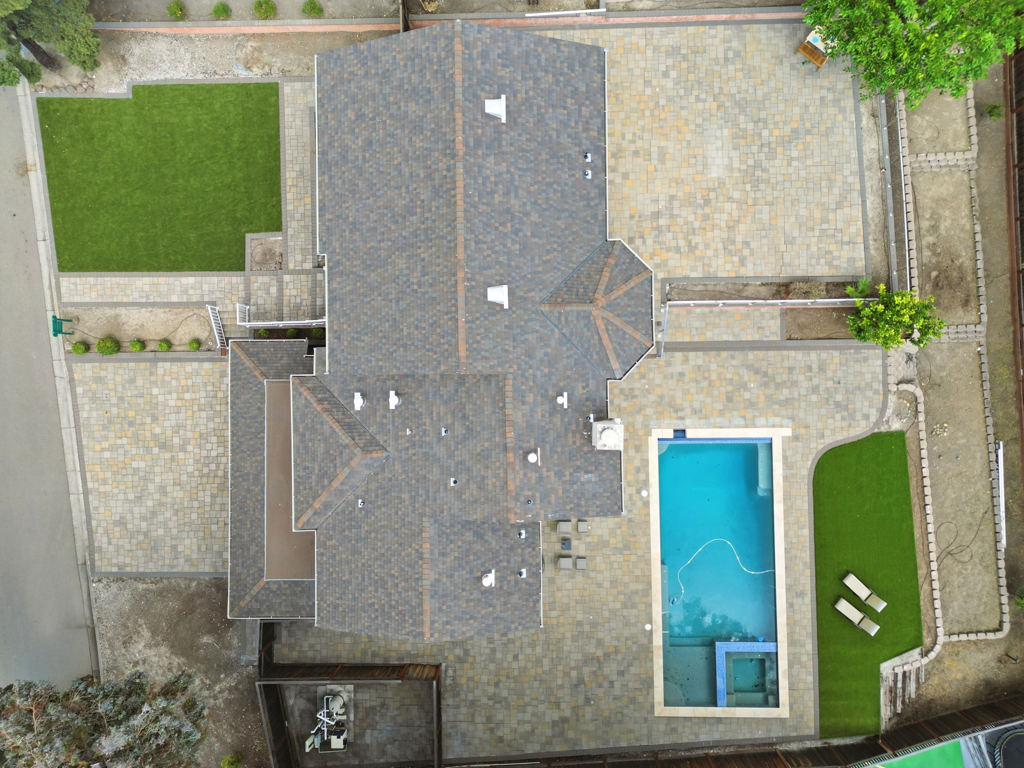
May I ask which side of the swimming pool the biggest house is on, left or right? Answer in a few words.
to the left of it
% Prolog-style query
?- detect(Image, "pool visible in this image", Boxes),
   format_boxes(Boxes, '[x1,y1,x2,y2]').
[648,428,792,718]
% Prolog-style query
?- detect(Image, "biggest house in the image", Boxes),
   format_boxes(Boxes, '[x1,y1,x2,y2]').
[226,17,657,642]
